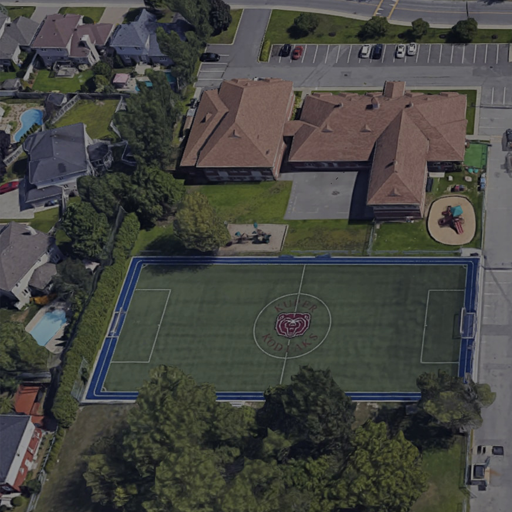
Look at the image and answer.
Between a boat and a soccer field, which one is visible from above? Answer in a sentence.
This aerial view contains a soccer field.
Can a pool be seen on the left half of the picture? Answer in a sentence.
Yes, looking on the left half of the picture, one can make out a pool.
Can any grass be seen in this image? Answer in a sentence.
Yes, grass can be seen from above here.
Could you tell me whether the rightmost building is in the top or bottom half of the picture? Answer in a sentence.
The top half of the photo is where the rightmost building is.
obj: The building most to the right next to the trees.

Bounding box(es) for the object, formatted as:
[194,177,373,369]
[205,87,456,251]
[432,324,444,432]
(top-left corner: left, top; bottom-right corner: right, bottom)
[178,65,468,222]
